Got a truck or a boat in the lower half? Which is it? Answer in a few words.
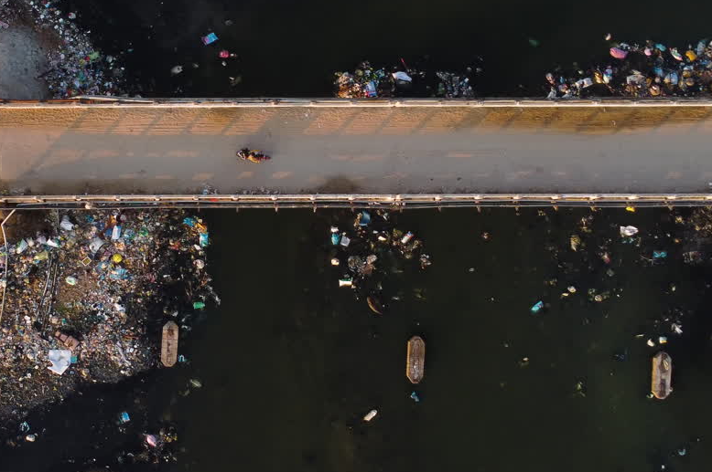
boat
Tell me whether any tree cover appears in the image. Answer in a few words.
No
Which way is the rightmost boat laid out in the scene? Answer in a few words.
up and down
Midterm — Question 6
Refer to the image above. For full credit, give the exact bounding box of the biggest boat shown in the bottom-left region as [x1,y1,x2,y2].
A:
[161,321,178,367]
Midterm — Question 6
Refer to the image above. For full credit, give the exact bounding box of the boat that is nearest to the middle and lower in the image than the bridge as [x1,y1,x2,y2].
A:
[406,336,423,384]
